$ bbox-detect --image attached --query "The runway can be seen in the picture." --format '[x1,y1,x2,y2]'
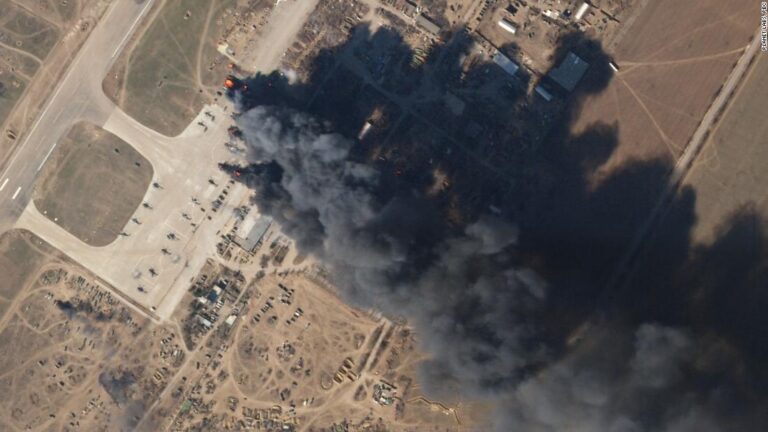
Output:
[0,0,156,236]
